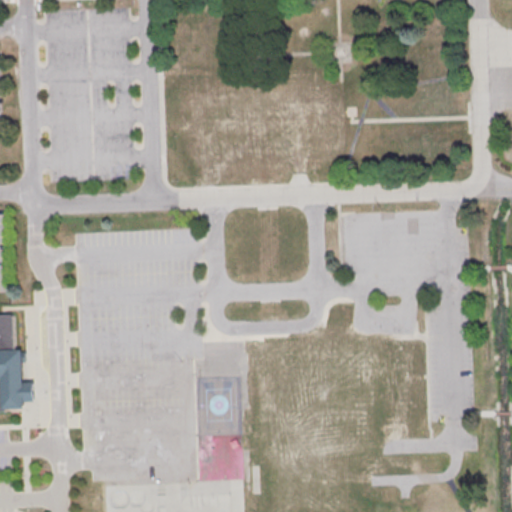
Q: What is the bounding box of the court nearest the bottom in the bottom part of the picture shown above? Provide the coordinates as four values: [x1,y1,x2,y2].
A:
[200,436,244,481]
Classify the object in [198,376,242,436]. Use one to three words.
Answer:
sports court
